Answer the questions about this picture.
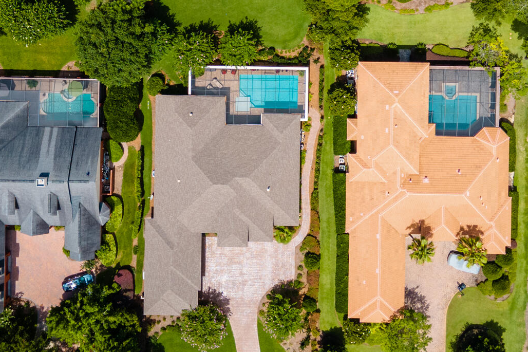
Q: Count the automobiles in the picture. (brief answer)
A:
two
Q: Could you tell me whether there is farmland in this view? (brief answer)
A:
No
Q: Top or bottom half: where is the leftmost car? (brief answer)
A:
bottom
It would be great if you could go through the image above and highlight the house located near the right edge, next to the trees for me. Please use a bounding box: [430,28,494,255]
[345,62,512,323]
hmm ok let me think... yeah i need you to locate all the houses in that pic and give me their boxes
[141,95,300,315]
[0,99,114,310]
[345,62,512,323]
